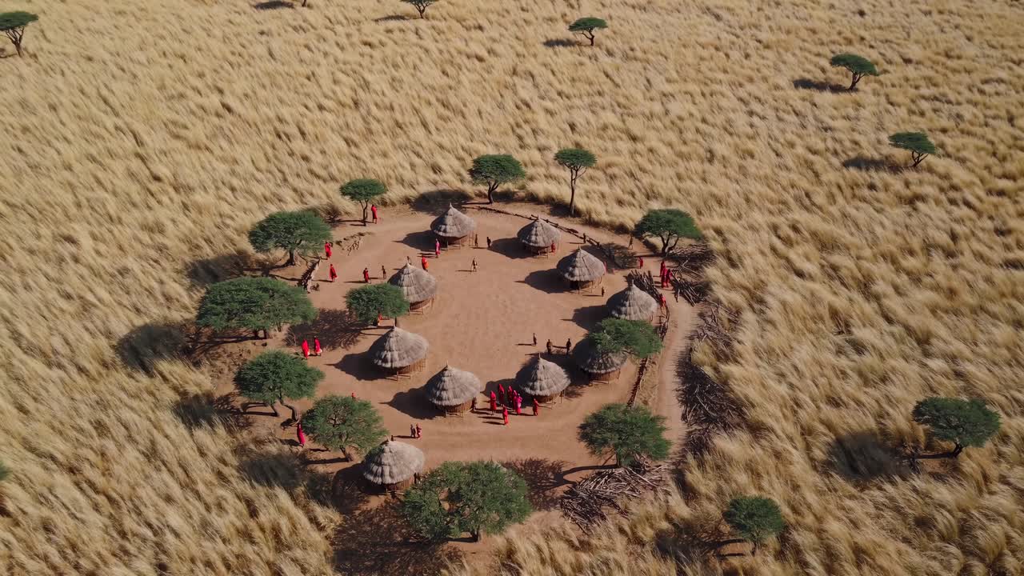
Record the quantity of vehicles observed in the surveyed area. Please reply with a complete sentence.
I count no vehicles.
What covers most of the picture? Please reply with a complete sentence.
The bulk of the photo consists of grass.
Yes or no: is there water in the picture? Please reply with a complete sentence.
No, the picture contains no water.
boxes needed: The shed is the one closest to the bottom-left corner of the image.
[362,432,424,495]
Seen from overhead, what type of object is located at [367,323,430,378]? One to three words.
shed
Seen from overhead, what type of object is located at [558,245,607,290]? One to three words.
shed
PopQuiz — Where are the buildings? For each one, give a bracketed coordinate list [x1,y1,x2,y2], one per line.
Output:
[430,203,476,246]
[558,245,607,290]
[516,349,572,406]
[425,362,483,414]
[516,212,563,254]
[607,276,659,323]
[390,258,437,311]
[574,338,629,383]
[367,323,430,378]
[362,432,424,495]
